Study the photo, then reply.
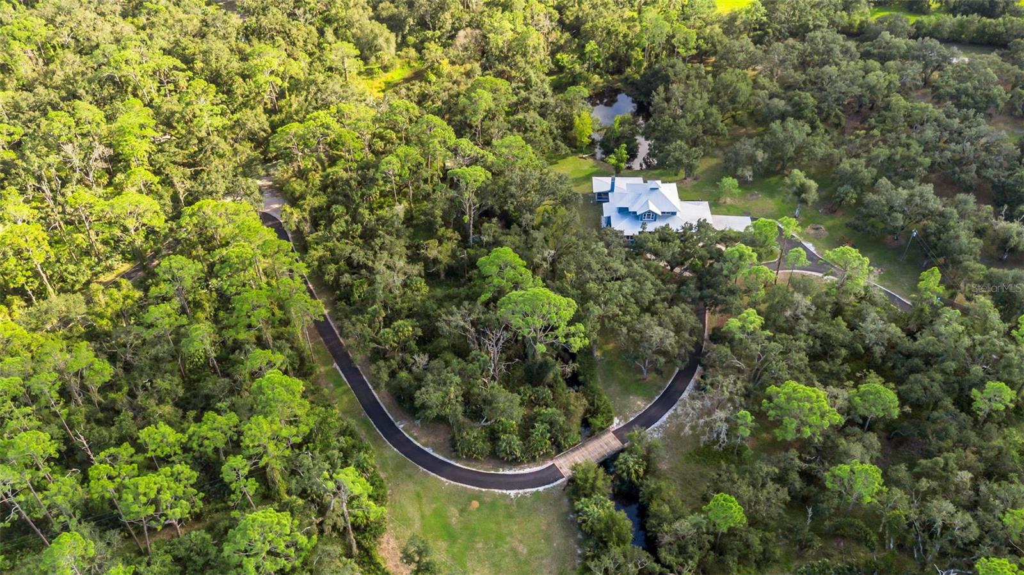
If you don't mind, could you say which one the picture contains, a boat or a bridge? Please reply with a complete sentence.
The one in the frame is a bridge.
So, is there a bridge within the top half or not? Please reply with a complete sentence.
No, within the top half there is no bridge.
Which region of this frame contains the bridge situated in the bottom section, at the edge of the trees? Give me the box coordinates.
[549,426,628,481]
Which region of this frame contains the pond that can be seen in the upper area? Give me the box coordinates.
[587,92,660,174]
